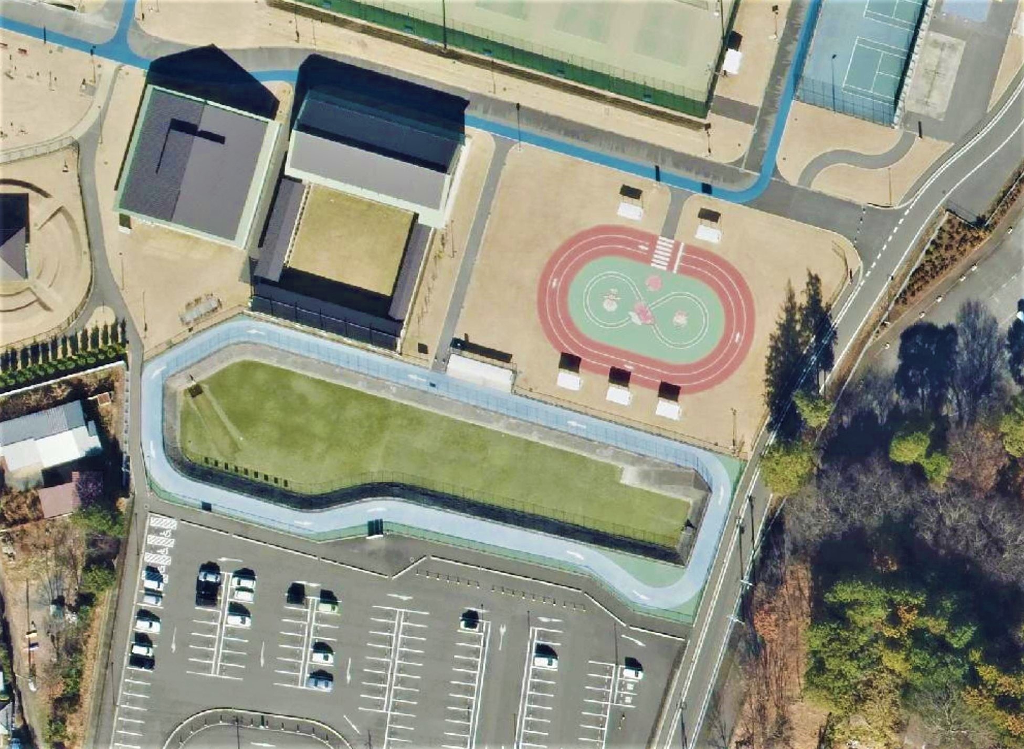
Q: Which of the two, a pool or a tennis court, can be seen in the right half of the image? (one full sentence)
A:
Visible in the right half of the image is a tennis court.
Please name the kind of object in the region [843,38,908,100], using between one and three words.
tennis court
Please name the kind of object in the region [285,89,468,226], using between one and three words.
building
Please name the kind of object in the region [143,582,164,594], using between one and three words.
vehicle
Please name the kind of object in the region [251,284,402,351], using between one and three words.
house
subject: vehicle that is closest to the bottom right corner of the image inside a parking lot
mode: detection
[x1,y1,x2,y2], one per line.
[623,670,644,682]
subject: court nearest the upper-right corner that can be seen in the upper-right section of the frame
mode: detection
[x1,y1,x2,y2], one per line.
[866,0,924,31]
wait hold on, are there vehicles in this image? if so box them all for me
[285,596,305,606]
[143,582,164,594]
[232,578,256,590]
[534,658,558,671]
[142,597,162,608]
[312,654,333,665]
[135,622,160,635]
[131,648,153,659]
[234,592,254,603]
[195,583,220,596]
[198,572,220,583]
[623,670,644,682]
[307,680,333,693]
[194,596,218,608]
[459,620,481,632]
[227,617,251,629]
[129,658,155,671]
[318,604,338,615]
